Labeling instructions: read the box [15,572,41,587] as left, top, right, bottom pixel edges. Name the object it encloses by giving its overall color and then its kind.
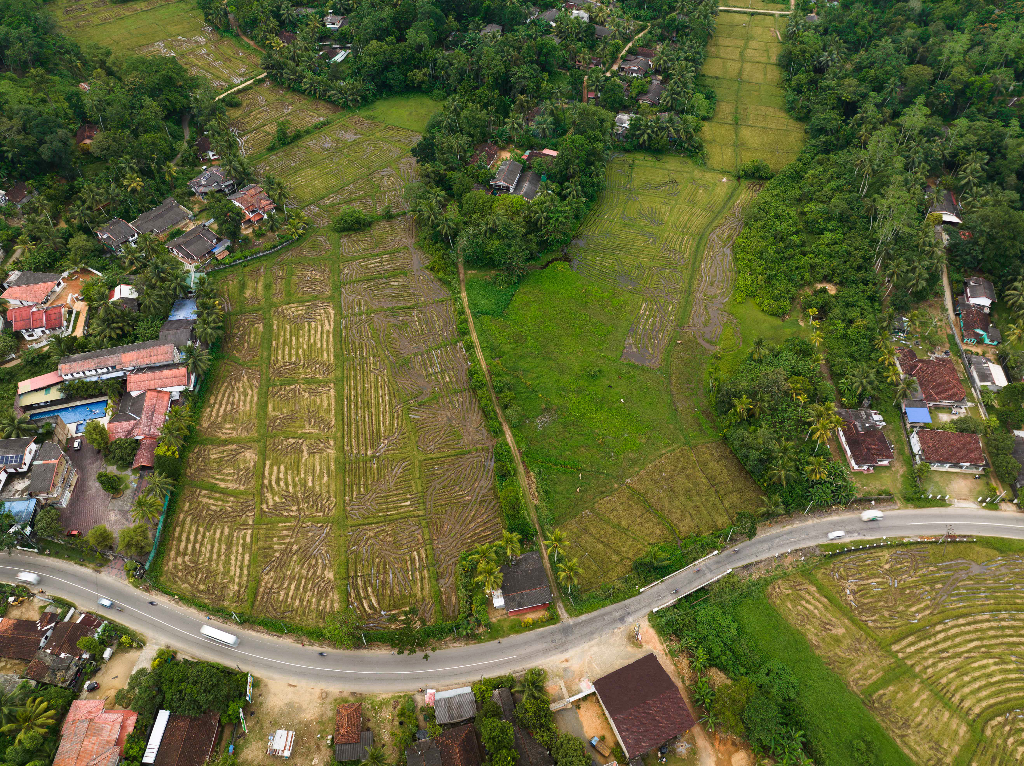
white vehicle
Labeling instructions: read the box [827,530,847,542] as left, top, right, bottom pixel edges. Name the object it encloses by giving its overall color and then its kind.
white vehicle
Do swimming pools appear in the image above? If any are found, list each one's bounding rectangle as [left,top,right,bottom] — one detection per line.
[25,397,112,438]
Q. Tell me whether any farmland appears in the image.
Yes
